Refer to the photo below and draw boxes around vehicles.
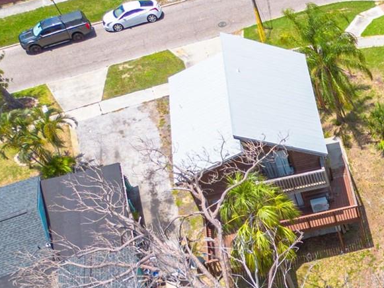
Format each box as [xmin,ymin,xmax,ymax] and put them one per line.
[9,0,95,51]
[97,0,165,30]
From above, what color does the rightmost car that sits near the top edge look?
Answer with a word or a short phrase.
white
